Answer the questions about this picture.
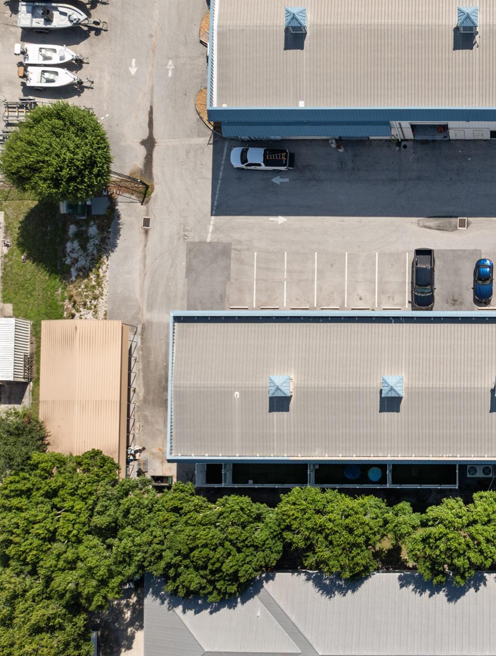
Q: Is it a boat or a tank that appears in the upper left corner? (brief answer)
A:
boat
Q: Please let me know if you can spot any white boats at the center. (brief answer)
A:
No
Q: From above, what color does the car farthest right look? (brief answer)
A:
blue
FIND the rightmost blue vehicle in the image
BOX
[473,258,496,303]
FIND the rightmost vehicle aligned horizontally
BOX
[229,142,297,171]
